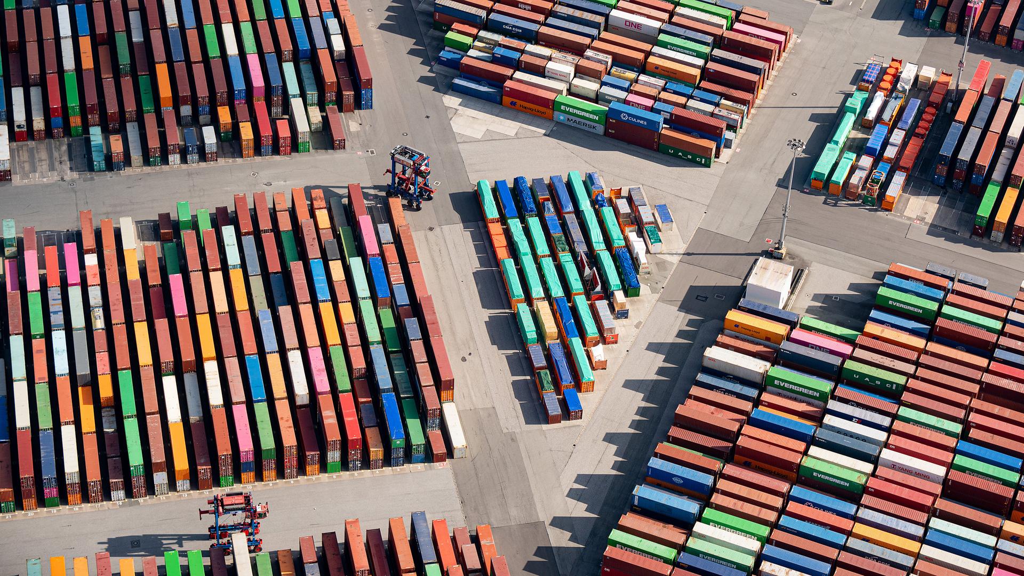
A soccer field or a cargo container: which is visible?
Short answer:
cargo container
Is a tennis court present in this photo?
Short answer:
No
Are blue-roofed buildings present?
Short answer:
No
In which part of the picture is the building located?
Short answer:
right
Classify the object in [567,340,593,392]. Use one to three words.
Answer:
shipping container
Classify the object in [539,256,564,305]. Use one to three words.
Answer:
shipping container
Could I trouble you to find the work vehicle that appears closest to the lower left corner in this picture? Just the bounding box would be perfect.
[199,487,270,555]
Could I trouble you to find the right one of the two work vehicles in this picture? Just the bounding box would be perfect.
[382,143,437,210]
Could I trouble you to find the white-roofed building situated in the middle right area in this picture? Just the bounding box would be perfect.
[744,257,793,310]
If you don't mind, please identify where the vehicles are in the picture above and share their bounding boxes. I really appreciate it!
[199,487,270,555]
[382,143,437,210]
